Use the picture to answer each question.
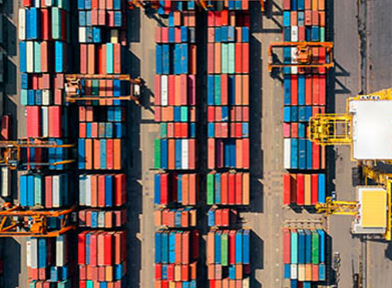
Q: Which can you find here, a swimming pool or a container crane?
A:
container crane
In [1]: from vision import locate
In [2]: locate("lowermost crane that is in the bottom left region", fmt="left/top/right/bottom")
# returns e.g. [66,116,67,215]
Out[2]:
[0,200,79,238]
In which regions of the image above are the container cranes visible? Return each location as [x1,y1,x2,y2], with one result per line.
[266,38,334,77]
[0,200,79,238]
[132,0,206,16]
[64,70,147,107]
[0,135,78,167]
[311,163,392,245]
[307,87,392,166]
[198,0,270,16]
